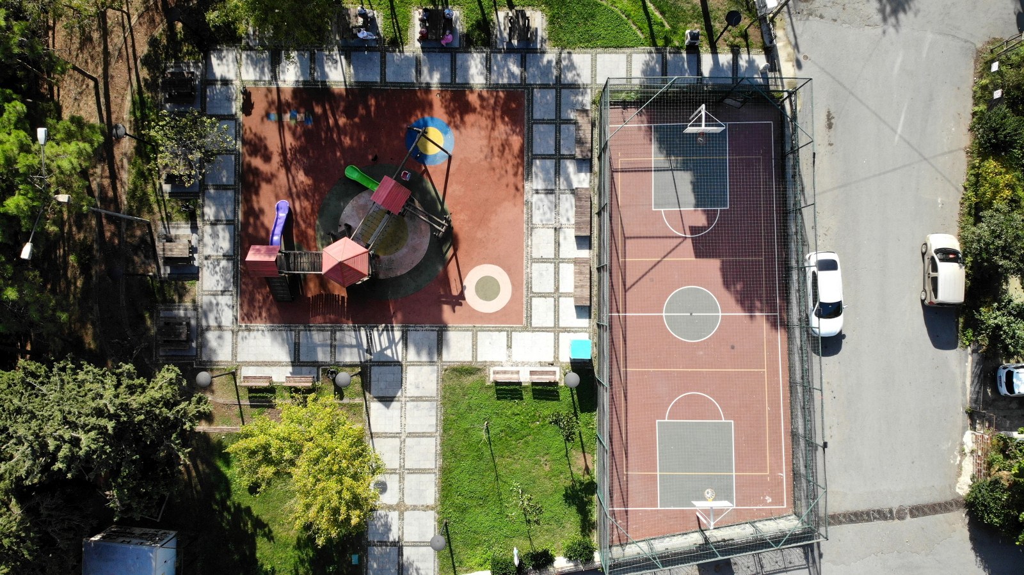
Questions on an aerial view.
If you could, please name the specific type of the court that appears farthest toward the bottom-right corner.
basketball court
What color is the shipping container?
blue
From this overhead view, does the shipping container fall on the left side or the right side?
left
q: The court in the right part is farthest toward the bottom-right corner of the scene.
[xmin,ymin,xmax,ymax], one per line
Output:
[607,103,794,544]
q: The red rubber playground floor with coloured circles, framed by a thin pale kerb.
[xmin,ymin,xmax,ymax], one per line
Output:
[236,86,527,331]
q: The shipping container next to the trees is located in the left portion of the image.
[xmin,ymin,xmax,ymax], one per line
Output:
[82,526,180,575]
